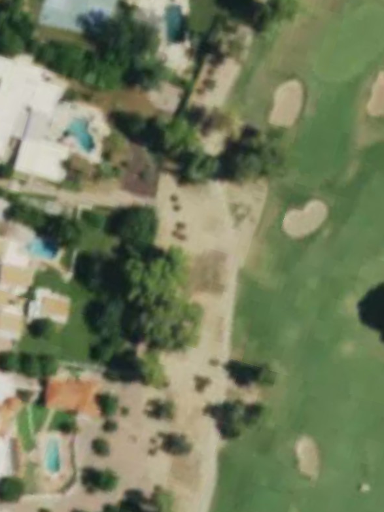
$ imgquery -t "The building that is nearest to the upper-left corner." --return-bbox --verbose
[0,55,69,182]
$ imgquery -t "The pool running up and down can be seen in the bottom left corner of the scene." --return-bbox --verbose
[45,435,61,473]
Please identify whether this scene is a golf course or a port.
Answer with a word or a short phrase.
golf course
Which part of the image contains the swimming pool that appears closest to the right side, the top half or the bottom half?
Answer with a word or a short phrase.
top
